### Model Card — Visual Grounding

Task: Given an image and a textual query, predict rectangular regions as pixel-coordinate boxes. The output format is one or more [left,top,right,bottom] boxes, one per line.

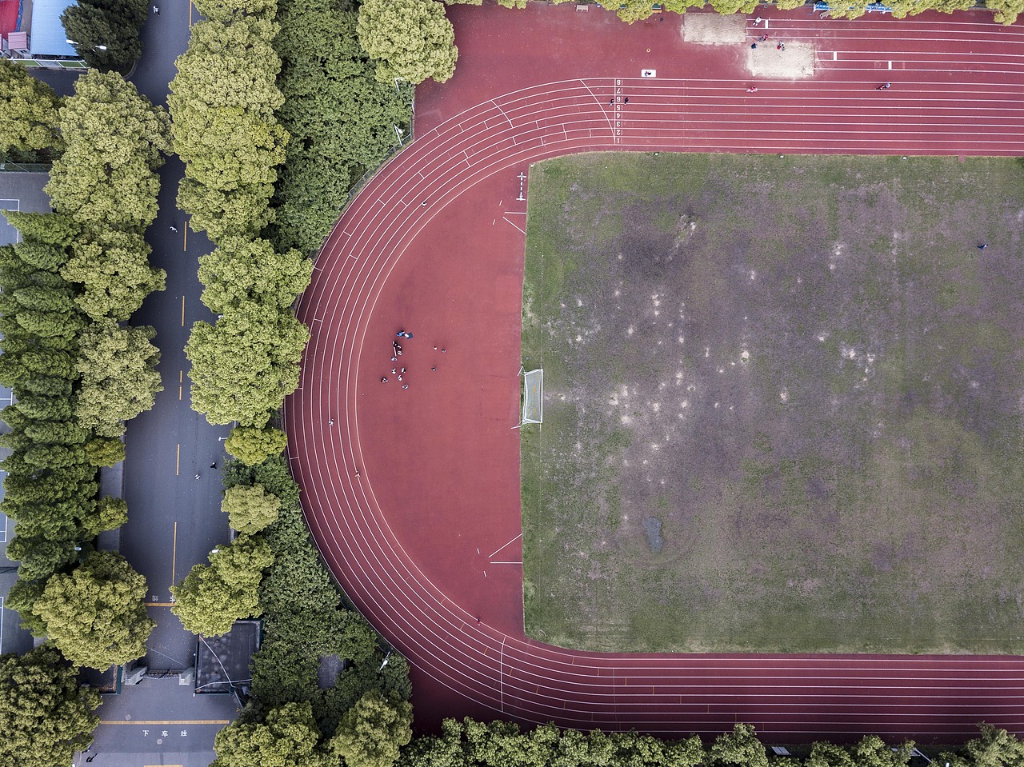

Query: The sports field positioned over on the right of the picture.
[521,150,1024,654]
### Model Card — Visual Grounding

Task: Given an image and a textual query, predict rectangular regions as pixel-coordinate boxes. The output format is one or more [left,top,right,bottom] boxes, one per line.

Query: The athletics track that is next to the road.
[282,2,1024,743]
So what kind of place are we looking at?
sports ground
